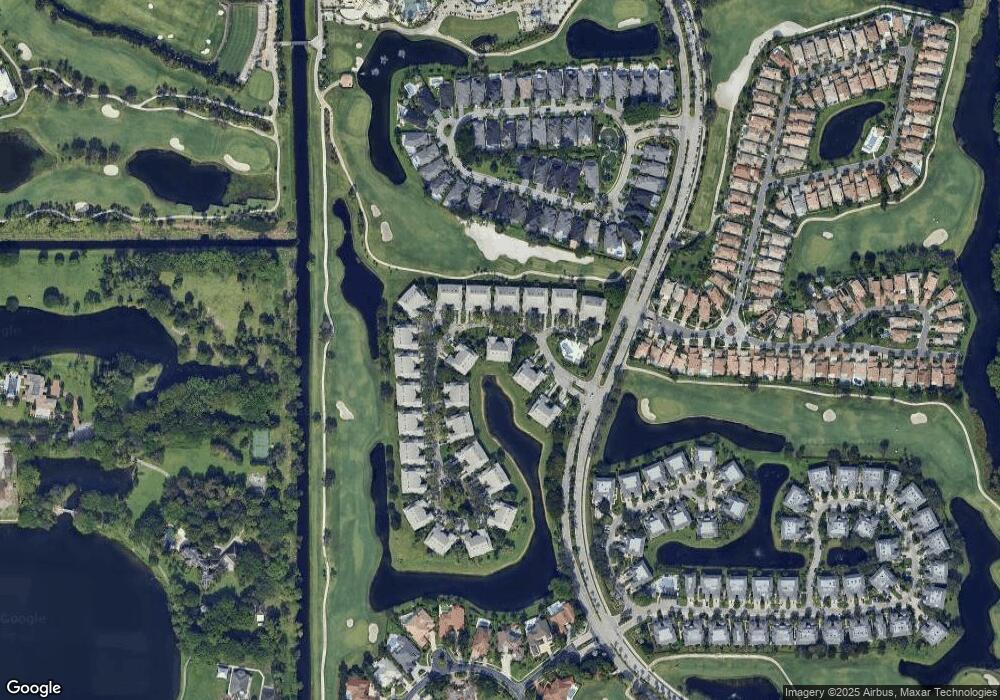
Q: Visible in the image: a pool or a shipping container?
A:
pool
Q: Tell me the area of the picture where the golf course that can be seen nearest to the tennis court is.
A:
center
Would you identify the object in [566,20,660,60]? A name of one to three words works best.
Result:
pond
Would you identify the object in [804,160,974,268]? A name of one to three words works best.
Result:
golf course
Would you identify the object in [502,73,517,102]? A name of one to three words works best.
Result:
house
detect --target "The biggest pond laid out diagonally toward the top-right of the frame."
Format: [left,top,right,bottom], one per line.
[819,102,886,160]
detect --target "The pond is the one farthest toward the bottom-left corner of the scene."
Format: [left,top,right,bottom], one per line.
[29,457,137,509]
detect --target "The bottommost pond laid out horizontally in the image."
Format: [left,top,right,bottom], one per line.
[685,677,784,700]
